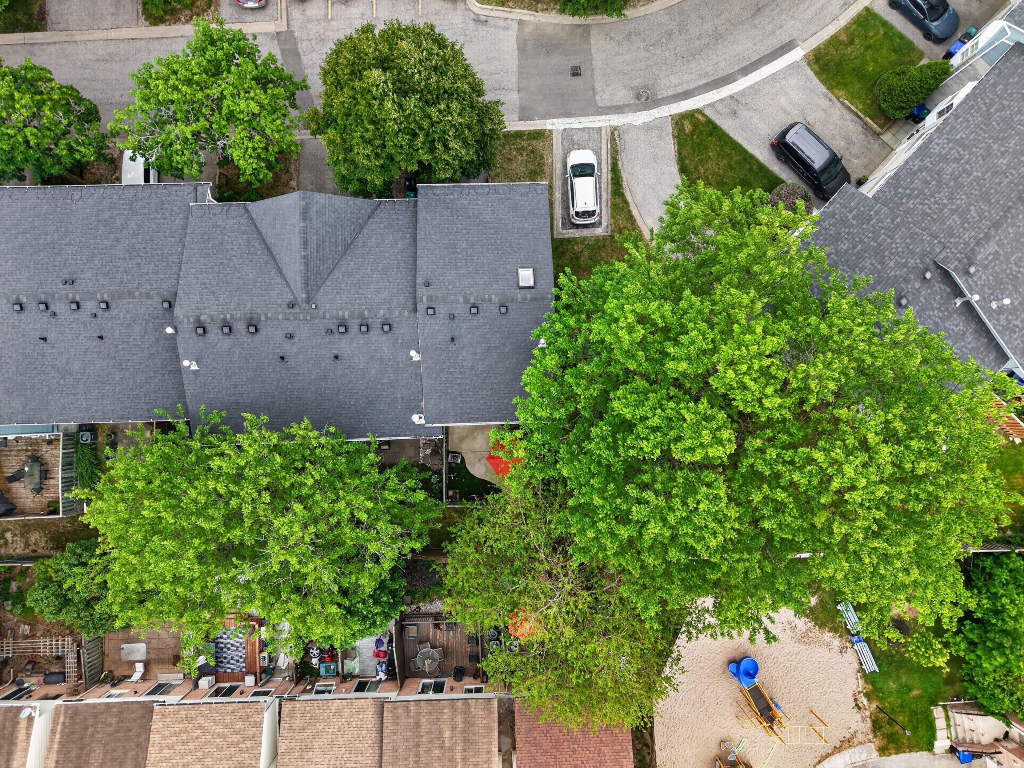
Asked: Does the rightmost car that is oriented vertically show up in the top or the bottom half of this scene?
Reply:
top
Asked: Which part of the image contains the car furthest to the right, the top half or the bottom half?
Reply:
top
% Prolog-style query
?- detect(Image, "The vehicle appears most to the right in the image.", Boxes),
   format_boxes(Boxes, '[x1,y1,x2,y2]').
[888,0,964,45]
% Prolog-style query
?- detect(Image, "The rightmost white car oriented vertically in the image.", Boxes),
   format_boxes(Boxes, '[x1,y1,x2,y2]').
[564,149,602,226]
